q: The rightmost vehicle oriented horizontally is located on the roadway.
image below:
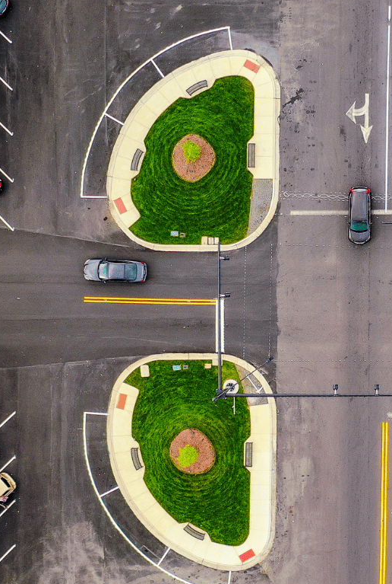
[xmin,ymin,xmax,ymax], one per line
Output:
[85,255,149,284]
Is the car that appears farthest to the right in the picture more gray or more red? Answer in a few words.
gray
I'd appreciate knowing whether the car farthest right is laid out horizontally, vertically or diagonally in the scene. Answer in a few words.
vertically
